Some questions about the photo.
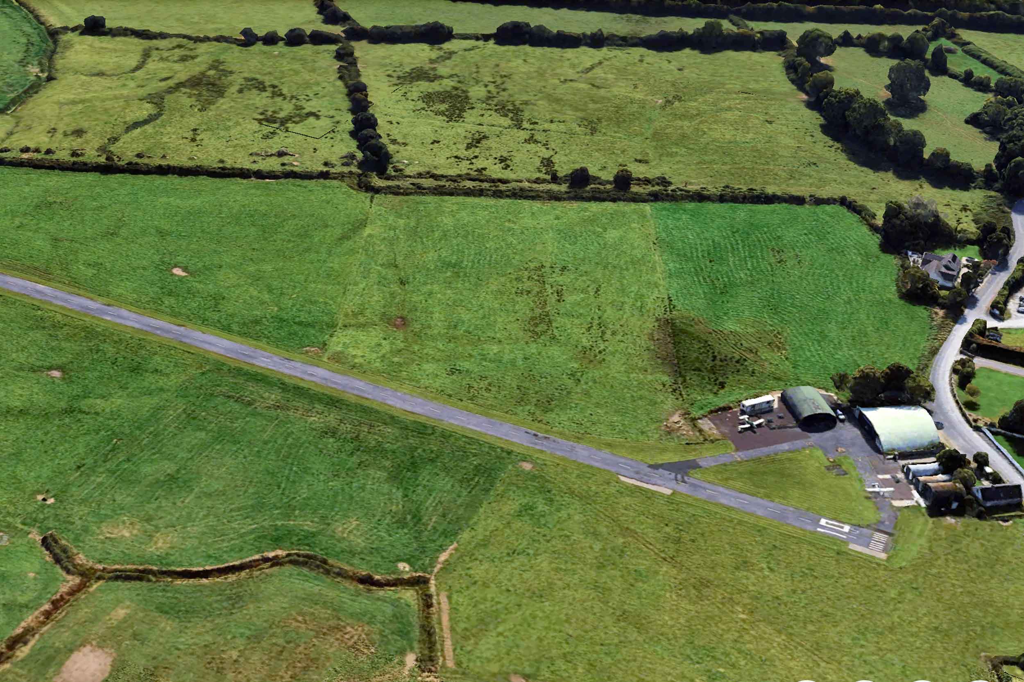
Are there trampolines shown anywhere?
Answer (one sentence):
No, there isn't any trampoline down there.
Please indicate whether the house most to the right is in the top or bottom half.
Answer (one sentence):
The house most to the right is in the bottom half of the image.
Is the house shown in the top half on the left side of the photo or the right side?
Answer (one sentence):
The house shown in the top half appears in the right half of the scene.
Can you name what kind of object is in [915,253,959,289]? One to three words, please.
house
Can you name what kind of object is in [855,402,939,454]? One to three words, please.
hangar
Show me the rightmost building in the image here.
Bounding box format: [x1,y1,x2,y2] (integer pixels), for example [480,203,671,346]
[976,482,1024,511]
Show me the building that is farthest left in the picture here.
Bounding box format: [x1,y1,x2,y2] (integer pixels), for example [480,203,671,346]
[779,385,837,427]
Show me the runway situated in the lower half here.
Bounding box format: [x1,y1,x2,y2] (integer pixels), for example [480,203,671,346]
[0,274,892,553]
